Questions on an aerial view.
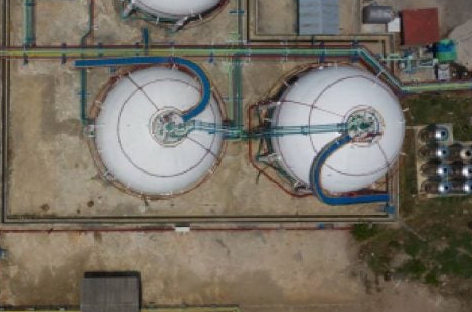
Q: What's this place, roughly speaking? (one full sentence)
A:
This image shows an industrial area.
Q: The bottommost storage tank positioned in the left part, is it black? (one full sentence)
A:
No, the color of the bottommost storage tank positioned in the left part is white.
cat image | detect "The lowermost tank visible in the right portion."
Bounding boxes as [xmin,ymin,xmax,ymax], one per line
[245,61,410,208]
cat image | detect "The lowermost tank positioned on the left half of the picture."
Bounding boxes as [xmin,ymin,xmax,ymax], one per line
[74,55,247,201]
